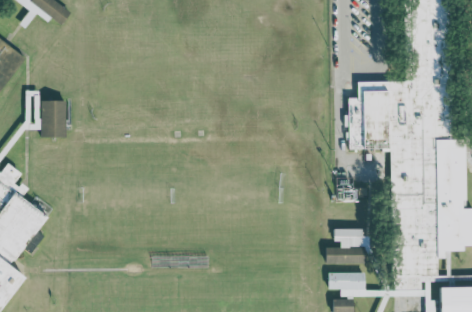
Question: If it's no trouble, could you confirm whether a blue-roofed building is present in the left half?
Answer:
No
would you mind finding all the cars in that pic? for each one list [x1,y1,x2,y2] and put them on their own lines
[334,30,338,40]
[362,8,370,18]
[334,56,339,66]
[363,32,371,42]
[364,24,372,34]
[363,40,371,48]
[333,4,338,13]
[364,18,372,26]
[352,32,360,40]
[362,0,370,10]
[352,14,360,23]
[352,0,360,8]
[333,16,338,26]
[352,6,360,16]
[353,24,362,32]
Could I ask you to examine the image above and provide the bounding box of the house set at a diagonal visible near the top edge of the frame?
[32,0,71,24]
